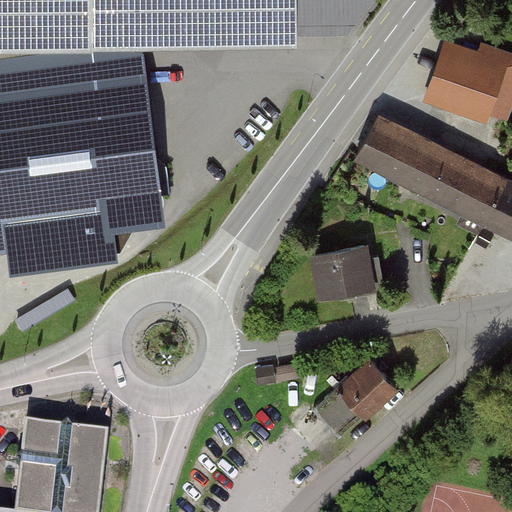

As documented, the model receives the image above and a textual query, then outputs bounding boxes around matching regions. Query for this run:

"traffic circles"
[0,228,258,512]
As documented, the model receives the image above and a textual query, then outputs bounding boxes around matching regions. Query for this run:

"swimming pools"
[368,172,386,190]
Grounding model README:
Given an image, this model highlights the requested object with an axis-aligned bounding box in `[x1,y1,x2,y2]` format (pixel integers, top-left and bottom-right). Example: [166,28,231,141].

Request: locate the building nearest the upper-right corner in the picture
[423,39,512,124]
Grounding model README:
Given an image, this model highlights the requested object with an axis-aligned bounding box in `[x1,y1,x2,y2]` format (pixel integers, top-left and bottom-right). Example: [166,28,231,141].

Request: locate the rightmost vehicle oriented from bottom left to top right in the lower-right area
[384,390,405,409]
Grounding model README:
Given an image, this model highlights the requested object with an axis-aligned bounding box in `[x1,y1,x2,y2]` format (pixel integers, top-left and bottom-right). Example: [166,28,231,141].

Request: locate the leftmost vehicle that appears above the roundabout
[150,70,182,84]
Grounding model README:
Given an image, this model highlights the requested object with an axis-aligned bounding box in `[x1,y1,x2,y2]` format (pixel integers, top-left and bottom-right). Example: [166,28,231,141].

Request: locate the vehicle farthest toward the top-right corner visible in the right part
[415,54,436,69]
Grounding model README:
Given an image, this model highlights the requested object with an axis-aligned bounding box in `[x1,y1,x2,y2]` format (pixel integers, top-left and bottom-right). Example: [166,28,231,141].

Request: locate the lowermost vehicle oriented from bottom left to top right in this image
[293,464,314,484]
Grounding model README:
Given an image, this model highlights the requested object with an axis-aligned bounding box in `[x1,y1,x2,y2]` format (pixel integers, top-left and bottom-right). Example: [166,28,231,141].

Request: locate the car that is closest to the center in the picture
[206,160,225,179]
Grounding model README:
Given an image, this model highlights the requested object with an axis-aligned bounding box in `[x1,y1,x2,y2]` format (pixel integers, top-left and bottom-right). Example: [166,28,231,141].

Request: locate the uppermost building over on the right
[298,0,370,38]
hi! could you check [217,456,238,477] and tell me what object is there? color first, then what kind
white vehicle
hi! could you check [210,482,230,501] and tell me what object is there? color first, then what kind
black car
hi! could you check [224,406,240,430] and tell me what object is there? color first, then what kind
black car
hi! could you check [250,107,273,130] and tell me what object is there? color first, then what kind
white truck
